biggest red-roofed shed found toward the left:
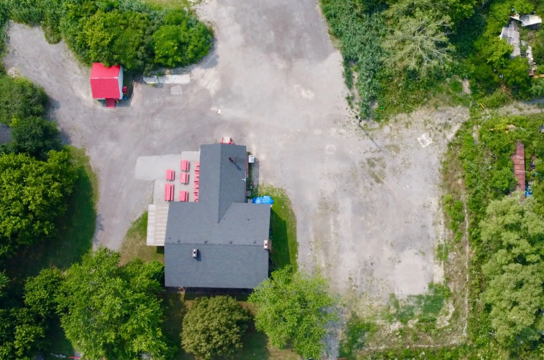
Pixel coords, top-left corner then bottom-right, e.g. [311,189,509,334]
[91,63,123,107]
